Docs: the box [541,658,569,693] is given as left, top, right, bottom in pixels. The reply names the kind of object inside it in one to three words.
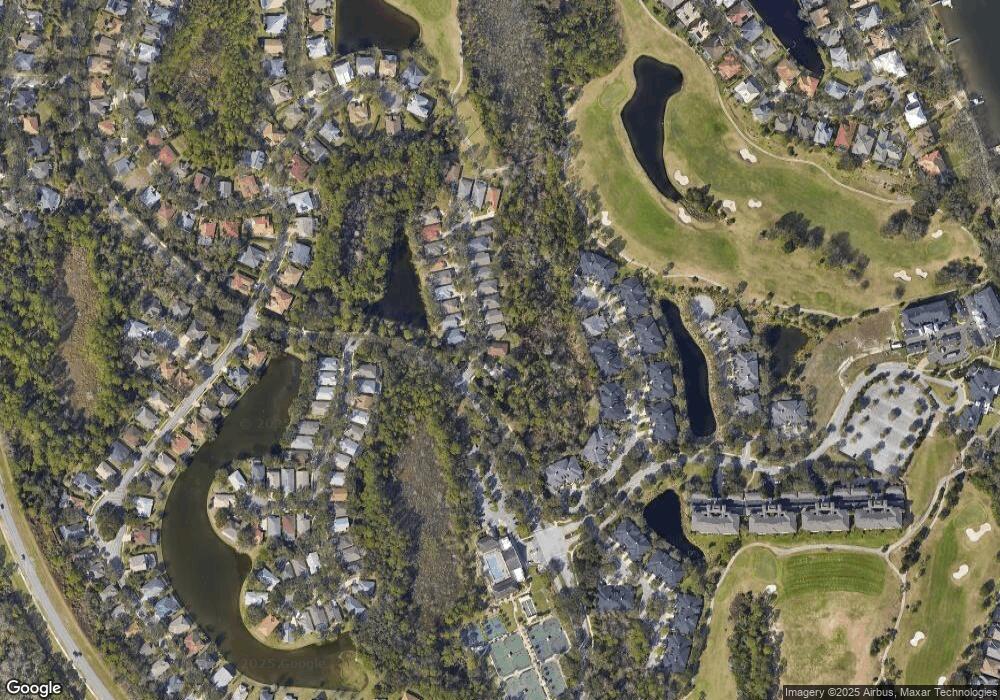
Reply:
tennis court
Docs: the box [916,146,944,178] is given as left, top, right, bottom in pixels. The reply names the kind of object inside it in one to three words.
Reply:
house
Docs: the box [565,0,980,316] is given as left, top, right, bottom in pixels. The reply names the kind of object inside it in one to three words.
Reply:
golf course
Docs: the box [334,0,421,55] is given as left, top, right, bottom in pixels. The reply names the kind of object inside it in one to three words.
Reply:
pond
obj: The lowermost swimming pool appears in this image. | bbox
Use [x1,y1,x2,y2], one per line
[480,550,510,585]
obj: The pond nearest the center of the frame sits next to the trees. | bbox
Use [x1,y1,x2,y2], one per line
[368,216,428,330]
